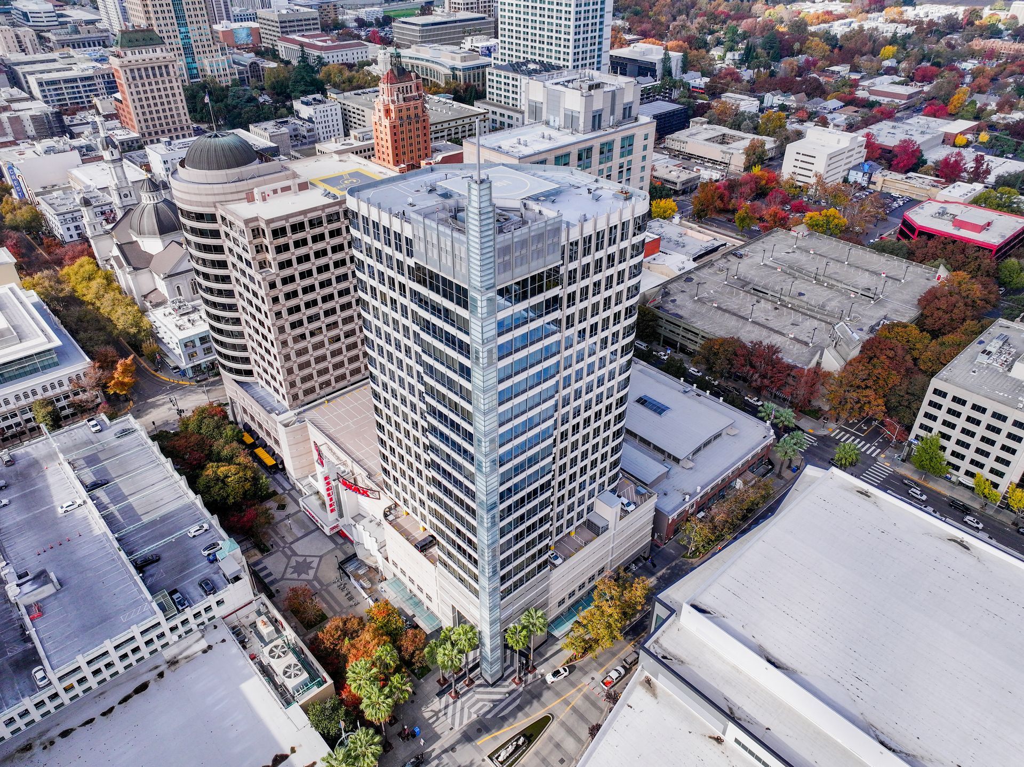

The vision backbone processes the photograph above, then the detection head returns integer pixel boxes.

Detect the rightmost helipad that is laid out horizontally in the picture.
[432,164,574,203]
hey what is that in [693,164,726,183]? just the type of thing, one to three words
building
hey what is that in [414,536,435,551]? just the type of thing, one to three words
car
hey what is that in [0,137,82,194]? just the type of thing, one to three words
building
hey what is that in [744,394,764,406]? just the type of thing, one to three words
vehicle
